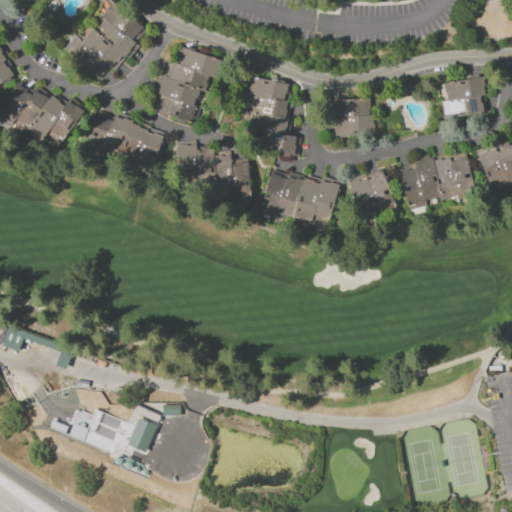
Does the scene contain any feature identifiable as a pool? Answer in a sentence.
Yes, you can see a pool in this photo.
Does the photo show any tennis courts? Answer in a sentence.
Yes, there's a tennis court down there.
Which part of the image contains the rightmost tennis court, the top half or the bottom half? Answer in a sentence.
The rightmost tennis court is in the bottom half of the image.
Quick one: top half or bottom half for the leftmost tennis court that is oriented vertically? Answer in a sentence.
It is in the bottom half that the leftmost tennis court that is oriented vertically appears.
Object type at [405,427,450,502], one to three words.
tennis court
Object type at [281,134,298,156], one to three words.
building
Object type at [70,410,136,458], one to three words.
building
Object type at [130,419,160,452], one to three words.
barn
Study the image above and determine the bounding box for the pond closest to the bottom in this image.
[212,428,302,488]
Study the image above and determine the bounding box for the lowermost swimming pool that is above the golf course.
[386,96,430,132]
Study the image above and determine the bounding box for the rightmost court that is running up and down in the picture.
[442,420,488,497]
